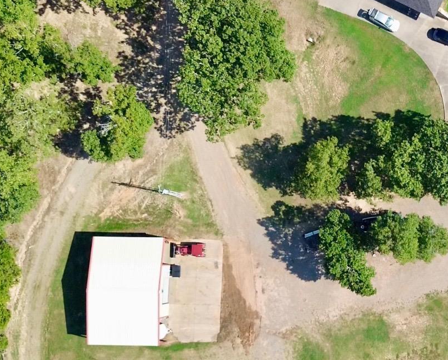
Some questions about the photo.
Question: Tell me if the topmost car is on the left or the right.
right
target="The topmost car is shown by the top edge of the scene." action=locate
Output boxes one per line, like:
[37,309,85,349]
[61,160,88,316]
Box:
[365,5,402,33]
